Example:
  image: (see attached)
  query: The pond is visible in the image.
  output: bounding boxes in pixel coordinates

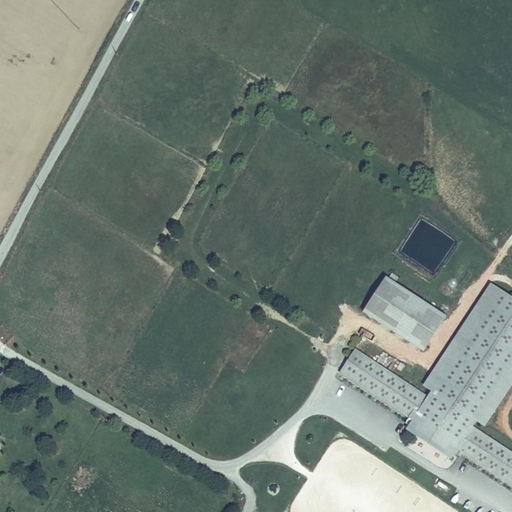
[393,212,464,282]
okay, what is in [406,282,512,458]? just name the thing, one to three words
building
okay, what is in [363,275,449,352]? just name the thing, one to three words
shed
